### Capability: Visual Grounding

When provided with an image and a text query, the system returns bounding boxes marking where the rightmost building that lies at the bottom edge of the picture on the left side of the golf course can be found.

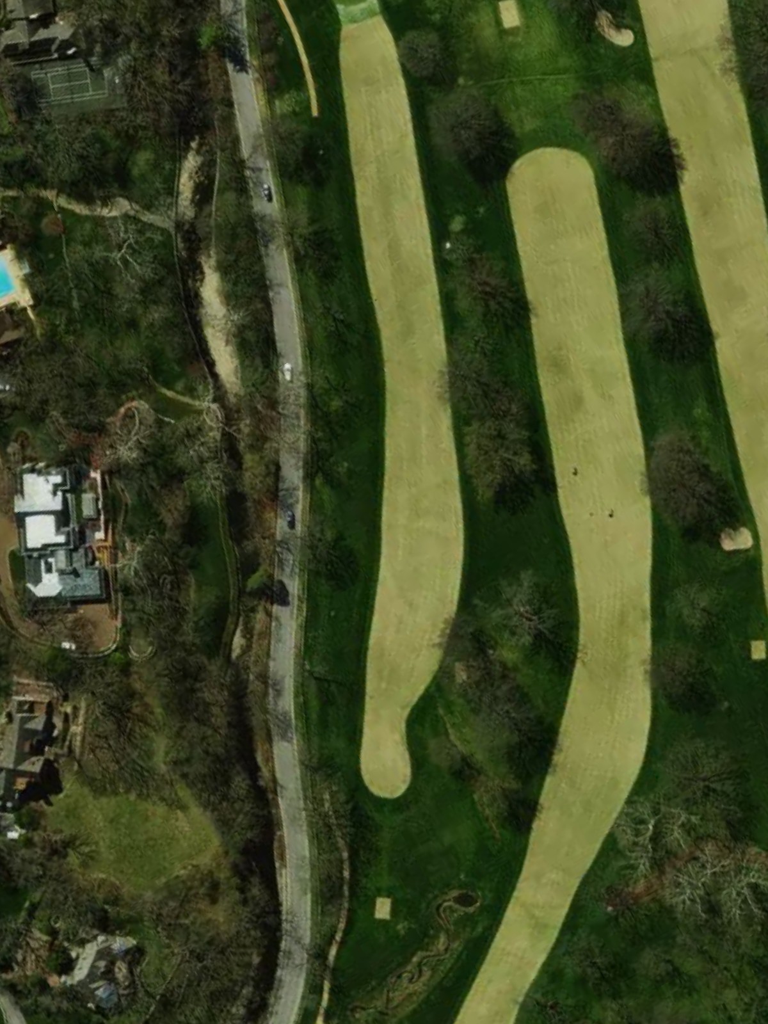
[61,934,136,1008]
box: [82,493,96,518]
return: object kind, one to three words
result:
building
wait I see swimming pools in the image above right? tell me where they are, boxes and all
[0,245,33,308]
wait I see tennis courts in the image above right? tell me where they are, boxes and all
[14,49,133,119]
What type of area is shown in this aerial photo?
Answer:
golf course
